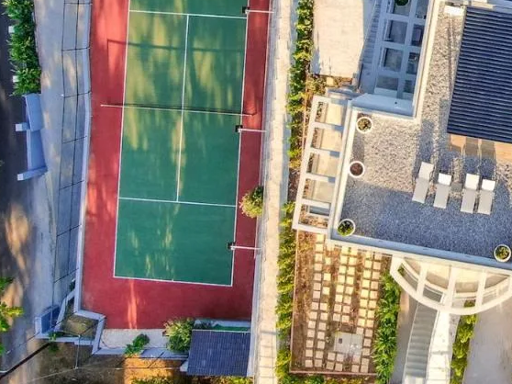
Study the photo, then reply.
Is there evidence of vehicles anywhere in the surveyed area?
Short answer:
No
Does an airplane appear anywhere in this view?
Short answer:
No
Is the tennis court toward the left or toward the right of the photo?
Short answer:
left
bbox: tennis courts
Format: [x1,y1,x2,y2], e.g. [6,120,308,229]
[84,0,272,331]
